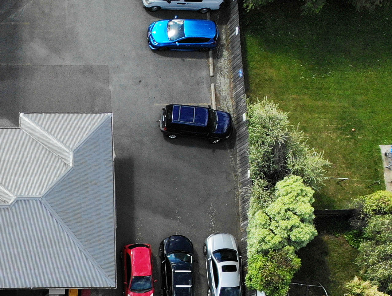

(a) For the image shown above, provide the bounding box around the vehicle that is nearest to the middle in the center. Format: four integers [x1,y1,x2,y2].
[163,101,237,141]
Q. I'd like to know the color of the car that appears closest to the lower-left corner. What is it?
red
